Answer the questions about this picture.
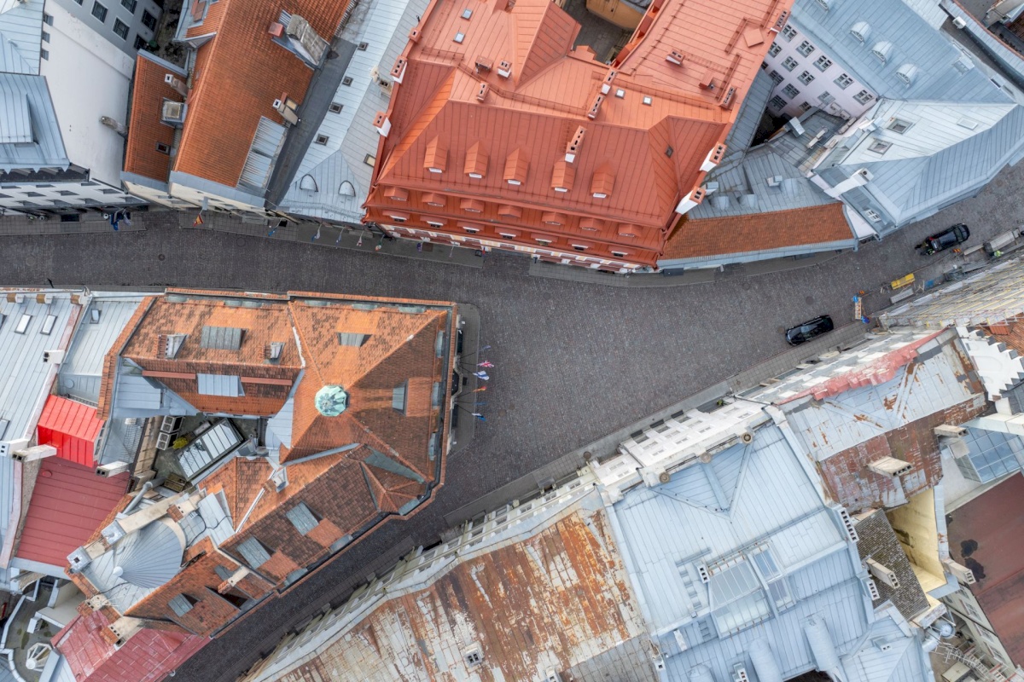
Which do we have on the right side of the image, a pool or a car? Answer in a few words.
car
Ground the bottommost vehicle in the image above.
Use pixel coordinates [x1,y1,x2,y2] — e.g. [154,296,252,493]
[785,313,836,347]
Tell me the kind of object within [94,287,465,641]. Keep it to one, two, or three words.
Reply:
building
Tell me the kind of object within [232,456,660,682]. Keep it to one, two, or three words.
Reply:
house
